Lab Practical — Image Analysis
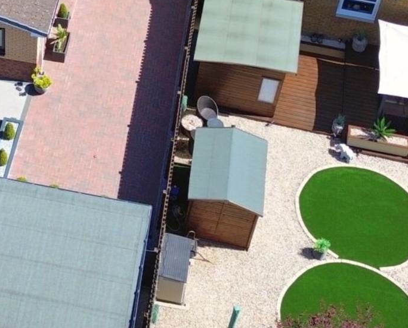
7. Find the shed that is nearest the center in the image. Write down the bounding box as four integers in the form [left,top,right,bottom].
[186,120,268,245]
